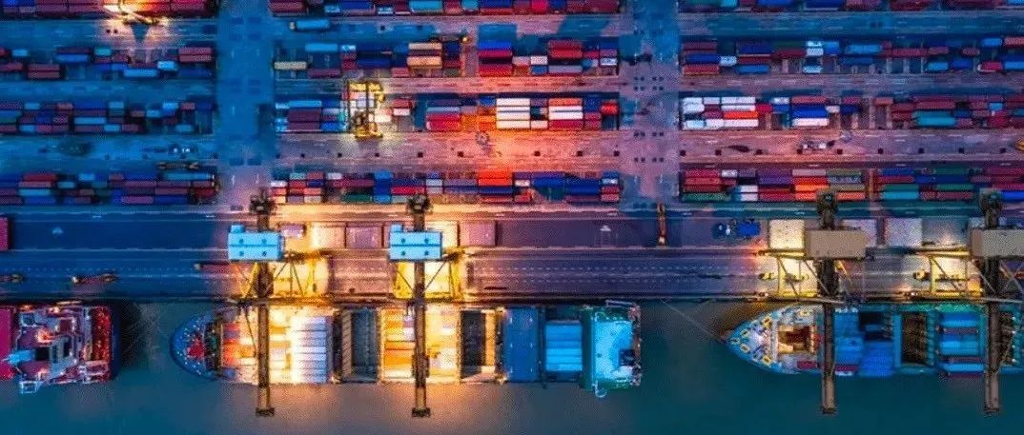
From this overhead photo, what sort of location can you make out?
port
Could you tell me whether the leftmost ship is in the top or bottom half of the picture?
bottom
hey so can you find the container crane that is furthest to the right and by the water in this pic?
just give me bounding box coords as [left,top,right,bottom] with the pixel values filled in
[903,192,1024,419]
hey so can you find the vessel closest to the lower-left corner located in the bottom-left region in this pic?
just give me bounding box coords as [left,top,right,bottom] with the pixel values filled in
[0,303,117,397]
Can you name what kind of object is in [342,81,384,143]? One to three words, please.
container crane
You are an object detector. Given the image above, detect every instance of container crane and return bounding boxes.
[903,192,1024,419]
[342,81,384,143]
[387,192,464,422]
[758,192,867,417]
[228,192,325,421]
